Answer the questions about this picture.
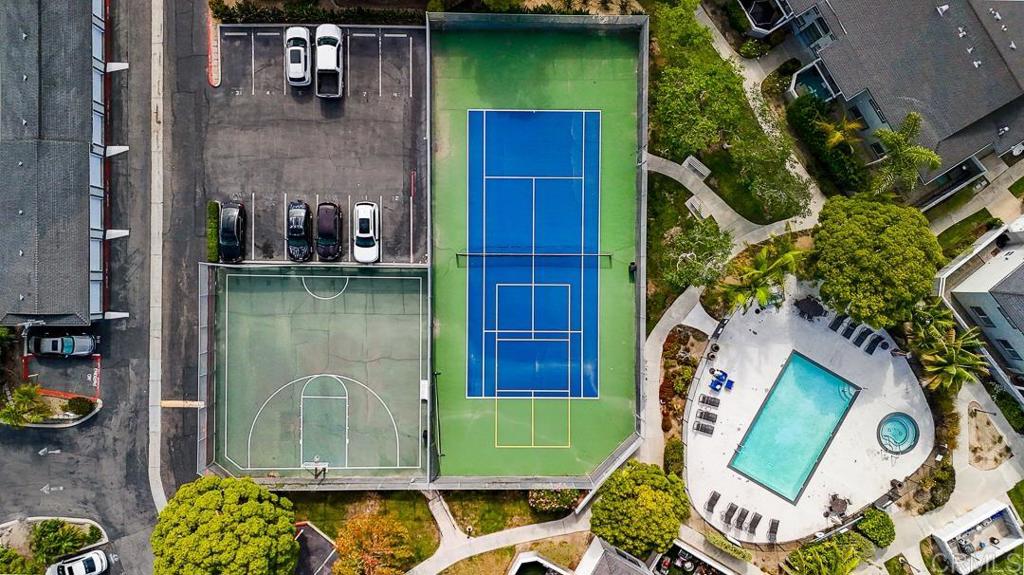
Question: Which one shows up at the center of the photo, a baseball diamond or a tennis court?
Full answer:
Visible at the center of the photo is a tennis court.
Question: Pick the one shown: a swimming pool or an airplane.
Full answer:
Visible in the photo is a swimming pool.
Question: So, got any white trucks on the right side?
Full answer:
No, the scene shows no white truck on the right side.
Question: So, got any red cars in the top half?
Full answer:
No, I see no red car in the top half.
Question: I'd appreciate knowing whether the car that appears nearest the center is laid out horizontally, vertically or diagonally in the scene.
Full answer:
In this picture, the car that appears nearest the center lies vertically.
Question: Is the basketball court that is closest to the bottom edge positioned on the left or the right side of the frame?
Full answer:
The basketball court that is closest to the bottom edge sits on the left side.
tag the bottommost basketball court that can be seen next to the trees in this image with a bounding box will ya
[216,266,426,477]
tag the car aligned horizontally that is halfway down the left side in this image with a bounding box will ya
[31,332,97,359]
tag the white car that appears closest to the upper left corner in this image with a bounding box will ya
[282,28,313,88]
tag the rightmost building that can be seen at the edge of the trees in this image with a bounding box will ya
[952,233,1024,383]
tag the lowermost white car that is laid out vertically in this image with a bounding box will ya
[351,202,380,264]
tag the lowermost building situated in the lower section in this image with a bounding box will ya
[575,537,651,575]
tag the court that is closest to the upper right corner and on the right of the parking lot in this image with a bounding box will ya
[430,29,639,477]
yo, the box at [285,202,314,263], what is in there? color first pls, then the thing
black car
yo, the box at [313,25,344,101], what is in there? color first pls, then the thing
white truck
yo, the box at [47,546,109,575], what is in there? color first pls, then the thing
white car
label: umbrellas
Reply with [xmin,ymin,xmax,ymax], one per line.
[796,294,823,320]
[748,0,777,25]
